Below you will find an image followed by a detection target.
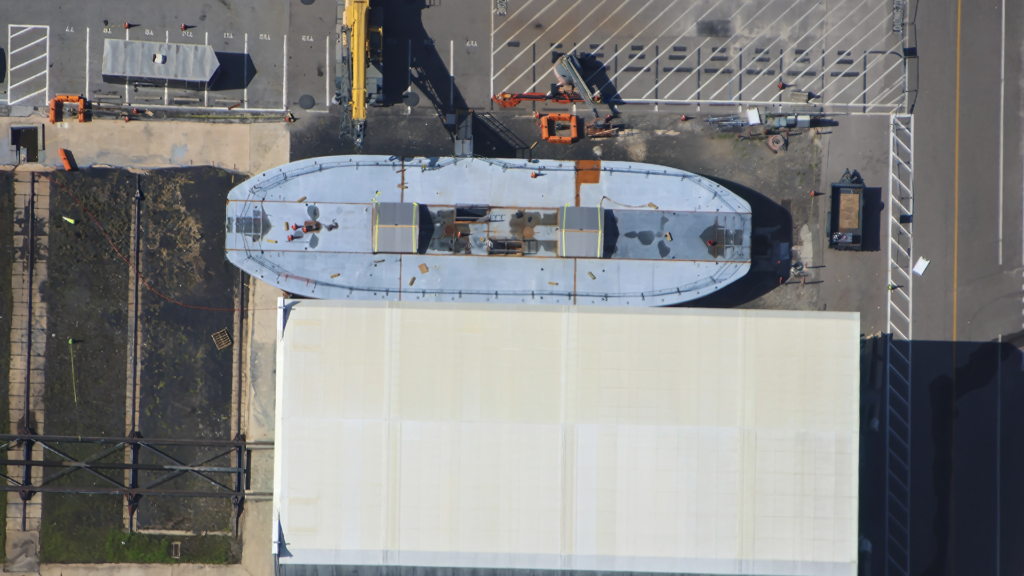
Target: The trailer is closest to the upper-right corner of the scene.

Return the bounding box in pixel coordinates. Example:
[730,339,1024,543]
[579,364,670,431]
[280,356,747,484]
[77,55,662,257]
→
[827,169,866,251]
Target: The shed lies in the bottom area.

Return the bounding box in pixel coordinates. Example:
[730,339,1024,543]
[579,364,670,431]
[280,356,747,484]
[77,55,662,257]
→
[272,297,860,576]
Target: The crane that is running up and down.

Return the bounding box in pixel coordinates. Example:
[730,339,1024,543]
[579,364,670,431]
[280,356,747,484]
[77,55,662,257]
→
[330,0,386,152]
